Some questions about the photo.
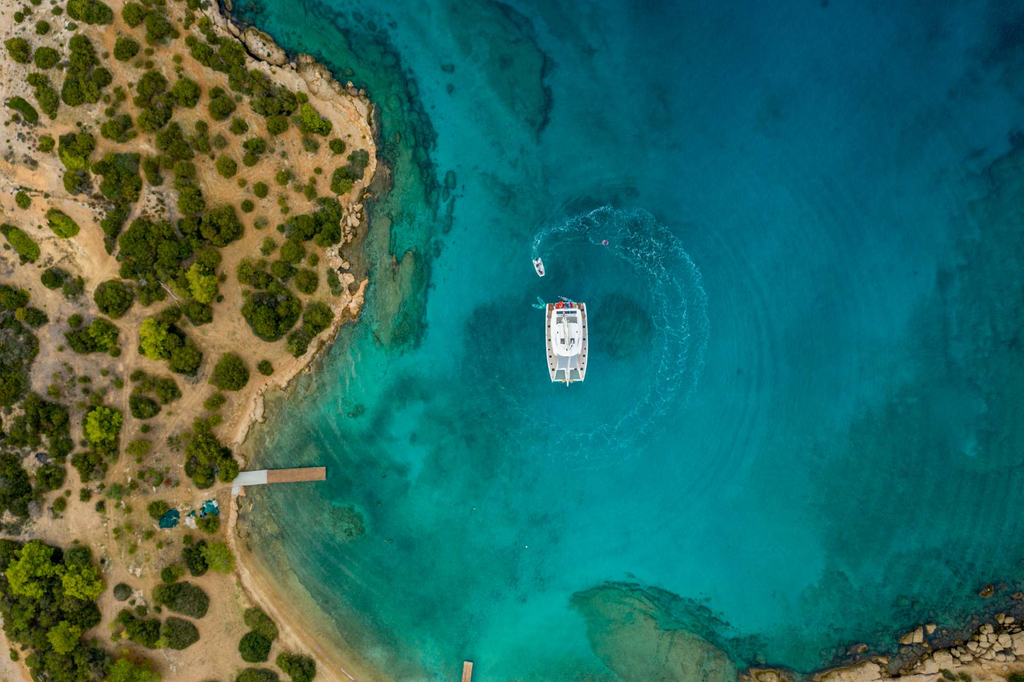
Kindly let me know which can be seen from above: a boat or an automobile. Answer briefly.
boat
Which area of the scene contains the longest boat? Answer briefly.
center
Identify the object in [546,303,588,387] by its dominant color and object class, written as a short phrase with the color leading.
white boat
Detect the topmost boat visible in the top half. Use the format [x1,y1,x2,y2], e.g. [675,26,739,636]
[533,258,545,277]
